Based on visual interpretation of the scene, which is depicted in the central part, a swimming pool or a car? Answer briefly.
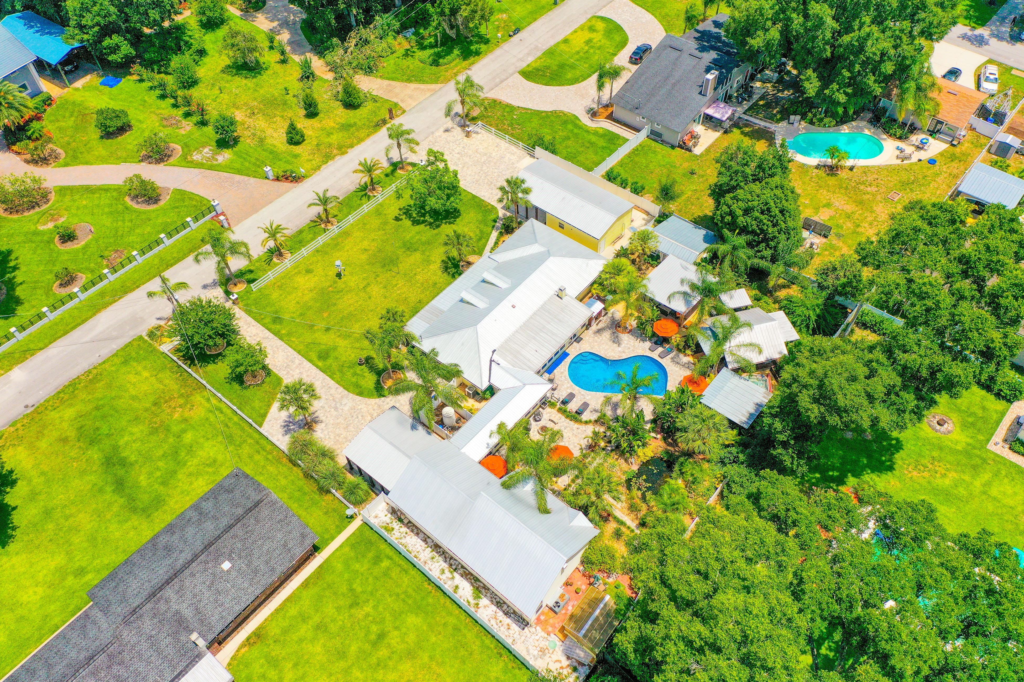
swimming pool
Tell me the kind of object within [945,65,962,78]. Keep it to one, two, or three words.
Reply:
vehicle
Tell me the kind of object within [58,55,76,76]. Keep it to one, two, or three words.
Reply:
car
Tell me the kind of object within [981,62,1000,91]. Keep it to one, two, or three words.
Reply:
car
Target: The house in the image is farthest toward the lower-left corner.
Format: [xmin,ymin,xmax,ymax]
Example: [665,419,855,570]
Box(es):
[3,466,320,682]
